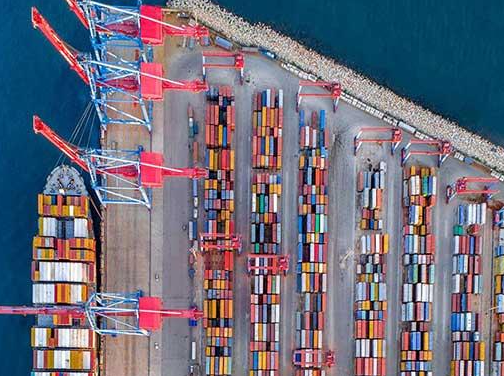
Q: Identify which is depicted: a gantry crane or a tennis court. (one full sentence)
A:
This aerial view contains a gantry crane.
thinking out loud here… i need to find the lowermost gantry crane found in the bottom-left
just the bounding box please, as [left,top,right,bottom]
[0,295,204,343]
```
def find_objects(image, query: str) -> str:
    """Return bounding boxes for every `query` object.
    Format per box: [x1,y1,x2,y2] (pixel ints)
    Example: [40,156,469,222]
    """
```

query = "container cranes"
[355,127,403,156]
[73,0,205,77]
[448,177,501,204]
[33,110,205,215]
[401,140,452,168]
[0,295,204,343]
[36,1,205,136]
[199,233,243,257]
[246,254,290,278]
[296,81,341,113]
[290,350,336,369]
